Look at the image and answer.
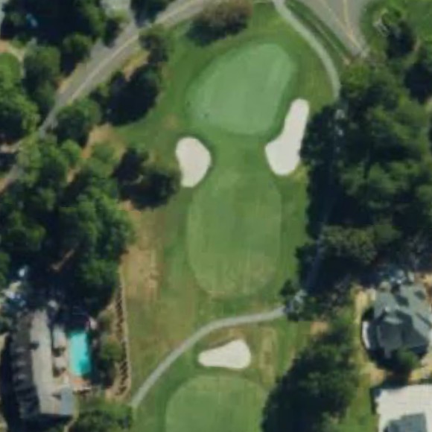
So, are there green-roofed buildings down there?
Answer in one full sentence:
No, no green-roofed building is visible in the scene.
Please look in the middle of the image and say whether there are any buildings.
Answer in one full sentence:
No, no building can be made out in the middle of the image.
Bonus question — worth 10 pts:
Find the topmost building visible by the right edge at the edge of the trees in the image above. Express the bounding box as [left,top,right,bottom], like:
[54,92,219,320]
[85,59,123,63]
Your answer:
[361,278,432,356]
